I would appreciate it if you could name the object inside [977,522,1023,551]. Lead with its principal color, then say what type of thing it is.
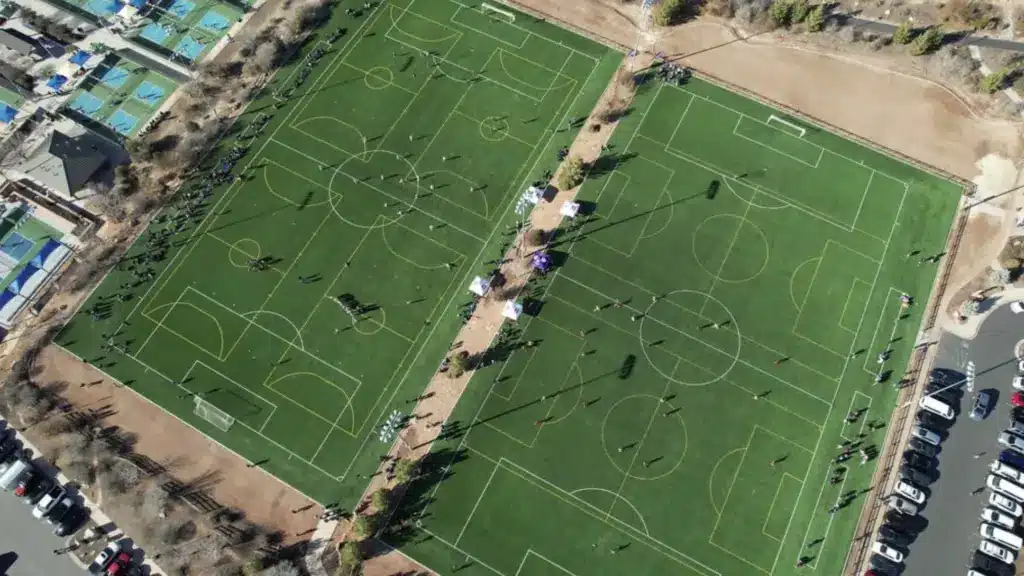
white van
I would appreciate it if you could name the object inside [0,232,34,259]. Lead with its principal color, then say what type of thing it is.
blue sports court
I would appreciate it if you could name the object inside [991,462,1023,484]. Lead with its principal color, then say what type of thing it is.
white car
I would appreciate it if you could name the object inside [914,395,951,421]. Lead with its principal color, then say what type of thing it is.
white vehicle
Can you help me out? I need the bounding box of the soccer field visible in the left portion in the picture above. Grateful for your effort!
[52,0,627,515]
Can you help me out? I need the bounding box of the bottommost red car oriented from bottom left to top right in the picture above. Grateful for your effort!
[105,551,133,576]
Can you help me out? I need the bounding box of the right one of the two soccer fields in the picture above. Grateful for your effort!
[375,57,965,576]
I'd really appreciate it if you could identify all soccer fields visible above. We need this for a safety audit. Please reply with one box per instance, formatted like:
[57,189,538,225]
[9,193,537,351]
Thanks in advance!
[52,0,627,515]
[375,57,965,576]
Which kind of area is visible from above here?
sports ground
